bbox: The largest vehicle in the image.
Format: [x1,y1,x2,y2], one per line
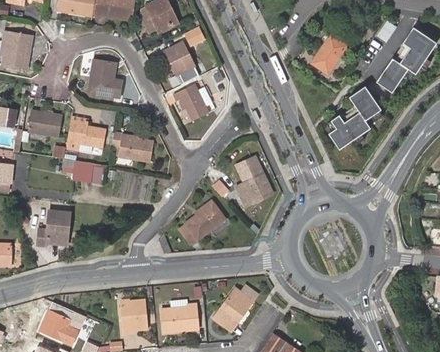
[271,56,288,84]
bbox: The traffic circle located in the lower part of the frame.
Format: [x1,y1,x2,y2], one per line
[276,190,388,303]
